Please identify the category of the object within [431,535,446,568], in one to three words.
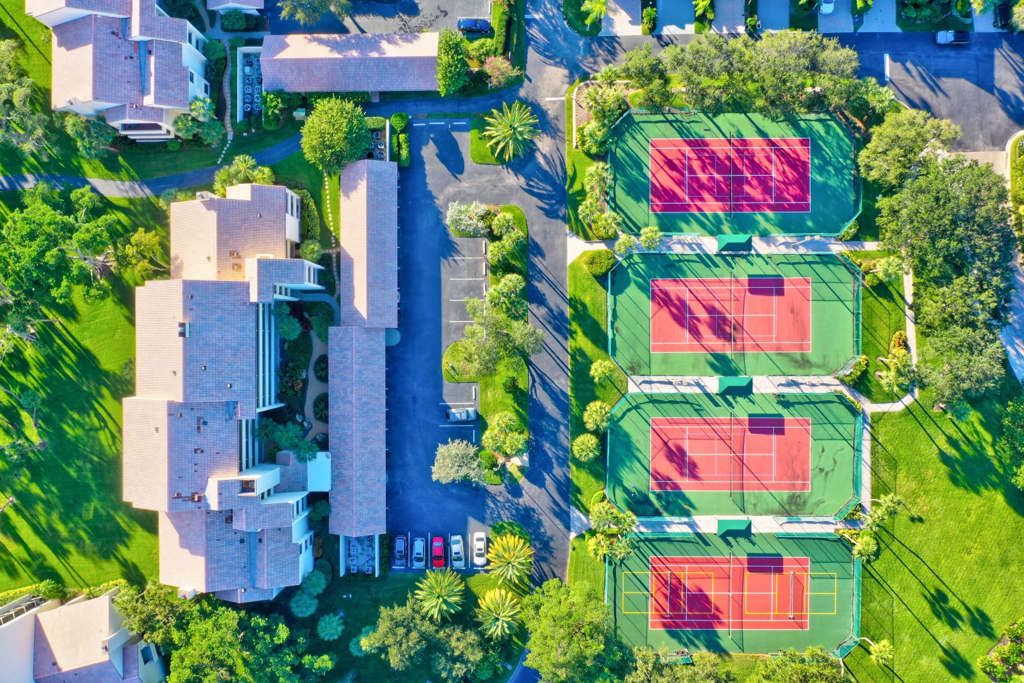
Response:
car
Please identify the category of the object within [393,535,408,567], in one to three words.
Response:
car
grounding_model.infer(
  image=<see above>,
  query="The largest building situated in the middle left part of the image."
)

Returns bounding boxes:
[123,184,331,603]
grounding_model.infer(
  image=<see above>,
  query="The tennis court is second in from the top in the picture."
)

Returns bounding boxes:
[610,255,854,376]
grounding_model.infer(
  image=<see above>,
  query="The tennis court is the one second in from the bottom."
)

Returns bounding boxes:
[608,394,854,516]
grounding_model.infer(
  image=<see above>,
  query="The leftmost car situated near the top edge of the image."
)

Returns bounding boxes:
[458,18,491,34]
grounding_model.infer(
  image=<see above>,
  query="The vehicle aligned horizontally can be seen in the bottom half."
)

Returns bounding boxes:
[446,408,475,422]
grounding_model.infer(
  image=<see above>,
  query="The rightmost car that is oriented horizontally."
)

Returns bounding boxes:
[934,29,970,46]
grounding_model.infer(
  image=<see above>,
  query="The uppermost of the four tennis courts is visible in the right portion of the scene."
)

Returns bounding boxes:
[610,112,854,235]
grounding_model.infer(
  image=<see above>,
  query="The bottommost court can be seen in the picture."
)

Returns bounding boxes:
[607,534,853,654]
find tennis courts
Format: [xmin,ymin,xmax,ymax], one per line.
[607,534,853,654]
[610,255,854,376]
[608,394,854,516]
[610,112,854,235]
